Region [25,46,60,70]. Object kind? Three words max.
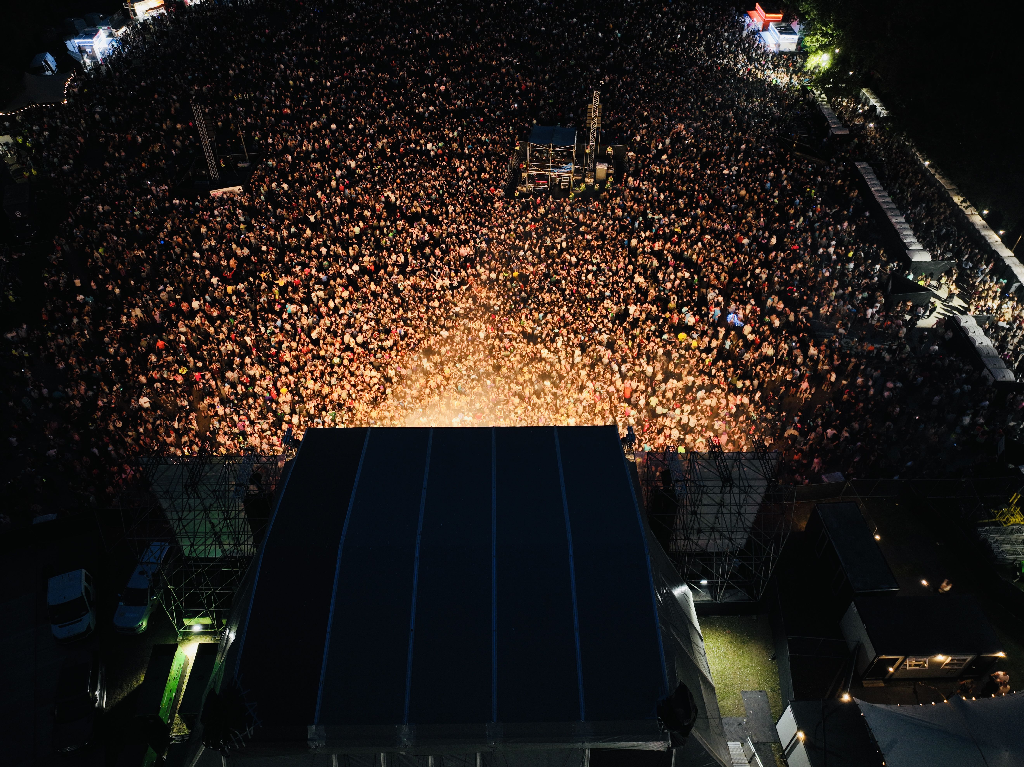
vehicle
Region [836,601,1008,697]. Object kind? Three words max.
building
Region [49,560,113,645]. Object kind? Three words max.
van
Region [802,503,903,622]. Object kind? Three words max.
building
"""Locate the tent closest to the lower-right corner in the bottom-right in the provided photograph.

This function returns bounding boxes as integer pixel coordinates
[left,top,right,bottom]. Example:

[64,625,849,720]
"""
[850,689,1024,767]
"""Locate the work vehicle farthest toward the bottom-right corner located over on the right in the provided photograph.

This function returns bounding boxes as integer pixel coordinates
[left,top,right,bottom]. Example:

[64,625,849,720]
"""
[977,472,1024,531]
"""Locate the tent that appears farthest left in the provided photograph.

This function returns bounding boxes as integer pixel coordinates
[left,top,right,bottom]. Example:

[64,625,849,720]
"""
[0,68,84,128]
